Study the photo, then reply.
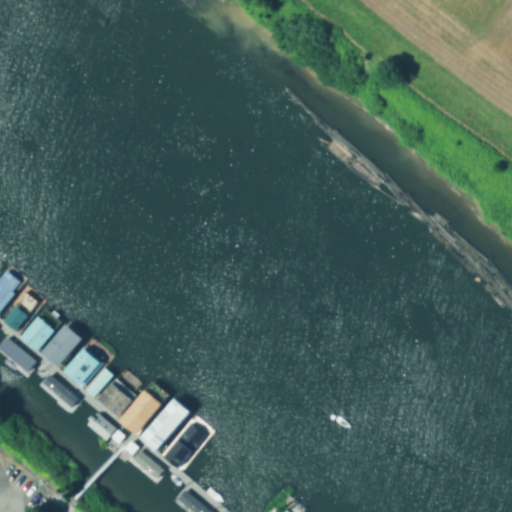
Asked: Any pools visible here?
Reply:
No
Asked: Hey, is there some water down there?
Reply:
Yes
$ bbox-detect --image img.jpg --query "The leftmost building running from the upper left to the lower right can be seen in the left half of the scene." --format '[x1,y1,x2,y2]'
[0,338,38,378]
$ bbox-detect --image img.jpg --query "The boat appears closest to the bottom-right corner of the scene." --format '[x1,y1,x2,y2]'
[334,414,352,428]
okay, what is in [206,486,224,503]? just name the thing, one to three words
boat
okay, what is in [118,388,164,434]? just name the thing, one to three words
house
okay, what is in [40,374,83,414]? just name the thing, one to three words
building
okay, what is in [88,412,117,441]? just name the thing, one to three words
building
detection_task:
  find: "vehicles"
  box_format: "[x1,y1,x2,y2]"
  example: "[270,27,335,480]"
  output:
[16,474,28,486]
[36,496,48,508]
[26,484,38,498]
[22,480,34,492]
[30,492,44,504]
[5,465,16,476]
[9,470,21,482]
